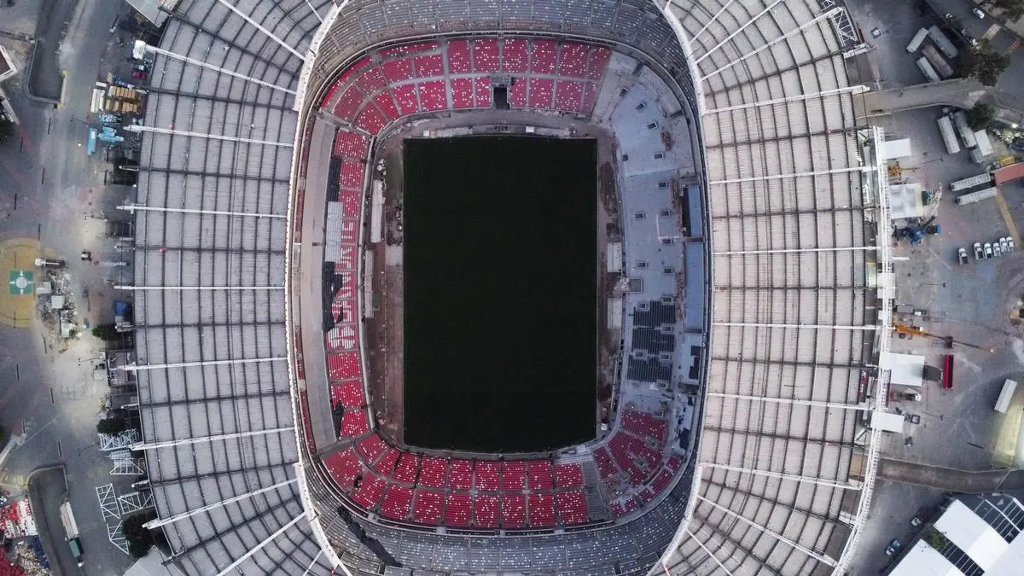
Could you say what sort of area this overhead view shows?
sports ground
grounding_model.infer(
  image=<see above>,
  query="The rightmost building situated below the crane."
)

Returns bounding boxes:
[884,486,1024,576]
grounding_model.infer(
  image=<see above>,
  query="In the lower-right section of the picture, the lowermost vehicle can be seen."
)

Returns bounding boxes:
[884,539,899,555]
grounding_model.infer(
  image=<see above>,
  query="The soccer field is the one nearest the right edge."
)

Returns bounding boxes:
[402,133,598,455]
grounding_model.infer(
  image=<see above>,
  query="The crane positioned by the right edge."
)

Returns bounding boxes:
[892,319,993,351]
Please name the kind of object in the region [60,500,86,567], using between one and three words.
truck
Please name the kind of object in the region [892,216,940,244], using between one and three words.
truck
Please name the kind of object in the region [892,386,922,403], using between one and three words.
vehicle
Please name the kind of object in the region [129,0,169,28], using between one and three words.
building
